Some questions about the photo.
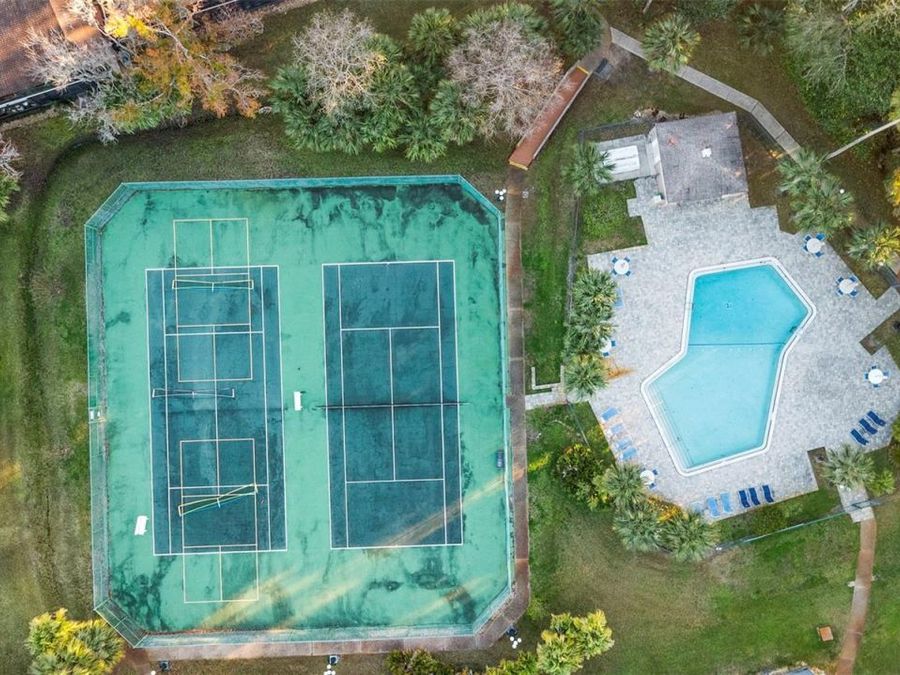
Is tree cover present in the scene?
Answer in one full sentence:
Yes, tree cover can be seen from above here.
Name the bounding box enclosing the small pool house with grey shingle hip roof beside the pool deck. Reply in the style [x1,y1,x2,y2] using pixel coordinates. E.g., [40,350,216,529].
[646,112,749,209]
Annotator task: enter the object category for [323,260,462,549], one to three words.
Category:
tennis court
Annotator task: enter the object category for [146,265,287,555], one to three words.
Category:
tennis court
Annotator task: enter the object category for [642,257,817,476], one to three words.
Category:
swimming pool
